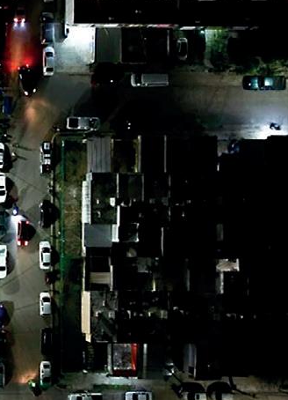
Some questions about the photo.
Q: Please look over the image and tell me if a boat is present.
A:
No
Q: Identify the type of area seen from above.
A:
residential area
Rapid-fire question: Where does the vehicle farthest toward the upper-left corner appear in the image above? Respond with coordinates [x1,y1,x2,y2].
[12,0,27,25]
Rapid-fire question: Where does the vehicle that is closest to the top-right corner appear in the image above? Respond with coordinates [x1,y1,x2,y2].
[242,73,288,92]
